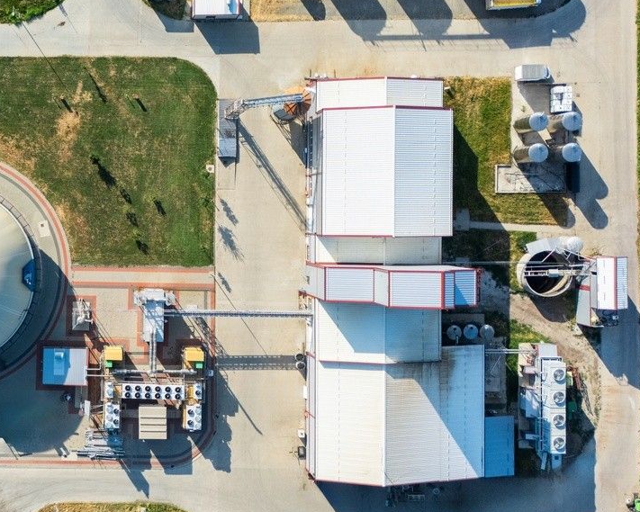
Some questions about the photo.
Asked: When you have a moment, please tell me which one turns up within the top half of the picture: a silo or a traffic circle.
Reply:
silo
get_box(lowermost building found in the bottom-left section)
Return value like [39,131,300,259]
[138,402,166,439]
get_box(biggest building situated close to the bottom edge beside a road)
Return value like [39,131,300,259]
[307,342,485,491]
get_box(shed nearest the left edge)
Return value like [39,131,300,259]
[44,347,89,386]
